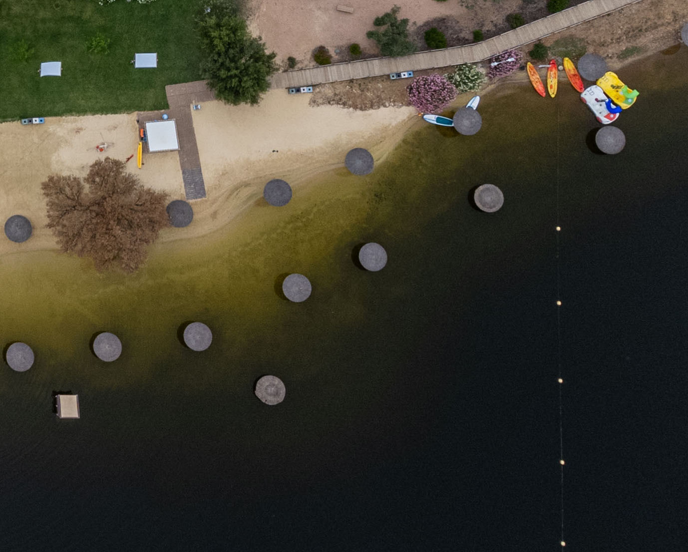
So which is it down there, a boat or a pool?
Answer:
boat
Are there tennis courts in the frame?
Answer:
No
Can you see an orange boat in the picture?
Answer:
Yes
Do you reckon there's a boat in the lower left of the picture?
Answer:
No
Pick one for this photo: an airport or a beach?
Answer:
beach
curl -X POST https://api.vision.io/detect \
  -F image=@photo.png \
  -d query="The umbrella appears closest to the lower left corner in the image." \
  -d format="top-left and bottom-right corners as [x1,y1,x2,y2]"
[8,340,37,369]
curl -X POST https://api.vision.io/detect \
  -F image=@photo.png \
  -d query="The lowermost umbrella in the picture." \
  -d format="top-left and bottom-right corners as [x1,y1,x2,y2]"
[256,373,285,403]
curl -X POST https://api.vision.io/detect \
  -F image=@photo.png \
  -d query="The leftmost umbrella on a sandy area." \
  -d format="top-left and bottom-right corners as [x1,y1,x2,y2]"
[5,213,34,242]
